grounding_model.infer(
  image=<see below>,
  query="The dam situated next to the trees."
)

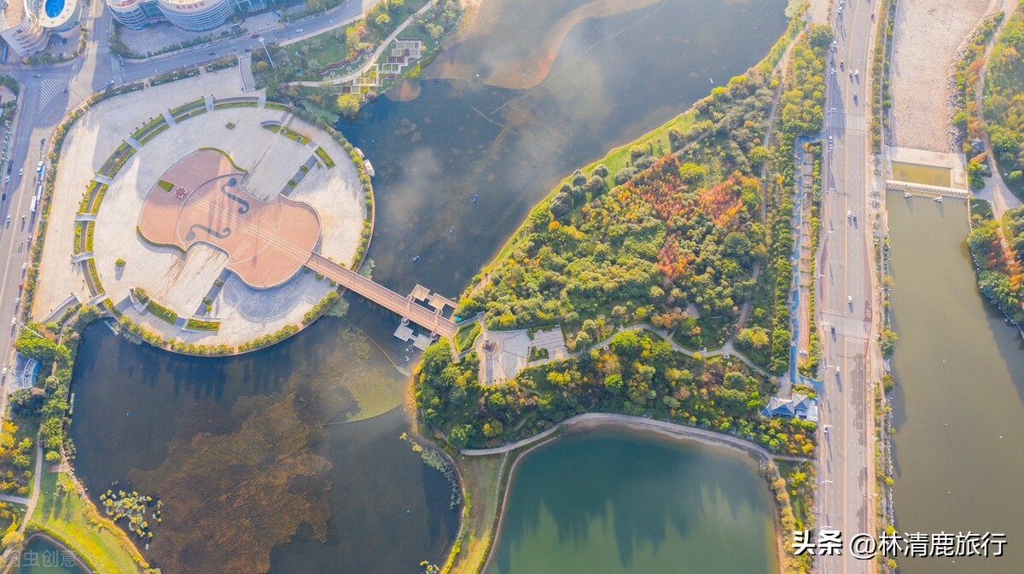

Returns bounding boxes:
[886,147,969,204]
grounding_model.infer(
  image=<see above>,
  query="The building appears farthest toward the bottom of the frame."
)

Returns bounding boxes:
[765,391,821,420]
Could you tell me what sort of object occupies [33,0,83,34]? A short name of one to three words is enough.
building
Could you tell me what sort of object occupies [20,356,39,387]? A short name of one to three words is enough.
building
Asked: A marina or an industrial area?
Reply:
marina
